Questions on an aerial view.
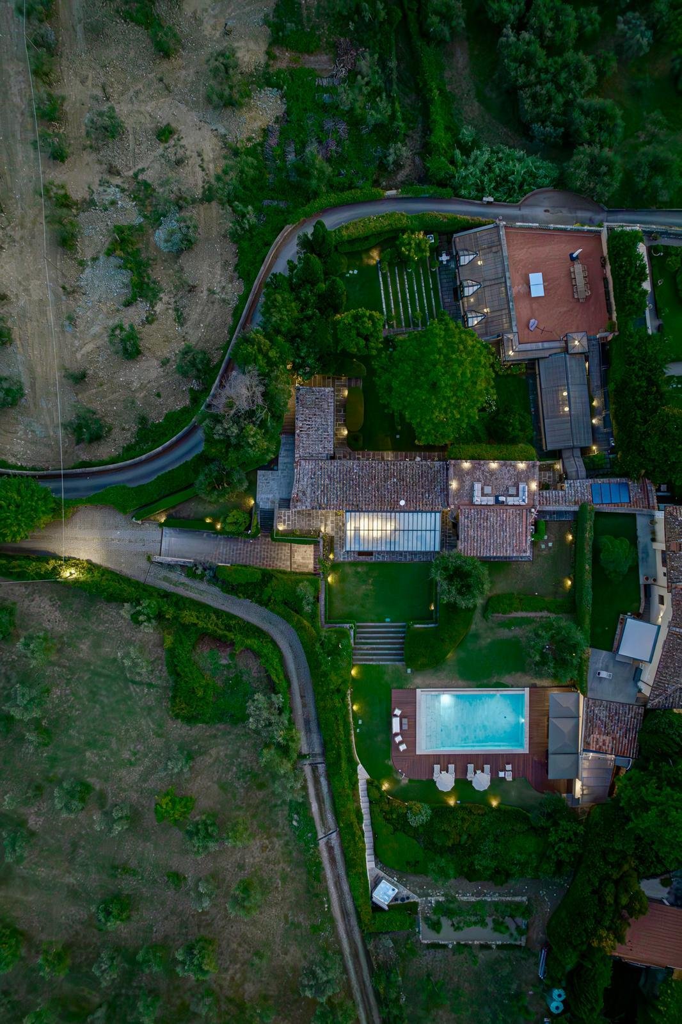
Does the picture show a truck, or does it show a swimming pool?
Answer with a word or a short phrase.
swimming pool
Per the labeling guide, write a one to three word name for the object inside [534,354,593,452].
house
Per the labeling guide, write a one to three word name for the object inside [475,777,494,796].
umbrella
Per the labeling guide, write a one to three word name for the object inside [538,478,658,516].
shed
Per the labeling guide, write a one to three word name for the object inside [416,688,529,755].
swimming pool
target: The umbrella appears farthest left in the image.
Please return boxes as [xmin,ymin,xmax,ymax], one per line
[438,777,457,797]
